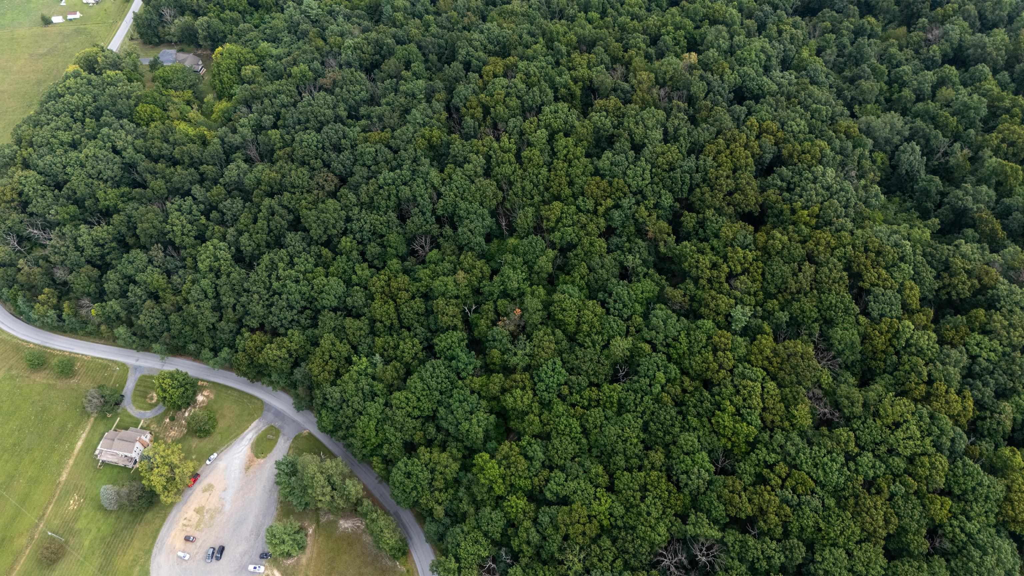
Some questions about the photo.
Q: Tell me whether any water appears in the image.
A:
No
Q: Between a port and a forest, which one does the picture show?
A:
forest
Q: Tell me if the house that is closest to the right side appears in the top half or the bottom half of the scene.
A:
top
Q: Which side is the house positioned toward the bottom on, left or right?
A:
left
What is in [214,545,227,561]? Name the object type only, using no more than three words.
vehicle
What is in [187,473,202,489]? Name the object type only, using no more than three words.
vehicle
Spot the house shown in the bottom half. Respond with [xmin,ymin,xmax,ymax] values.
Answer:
[96,427,151,474]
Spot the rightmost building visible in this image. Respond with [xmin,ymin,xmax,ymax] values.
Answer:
[170,51,206,77]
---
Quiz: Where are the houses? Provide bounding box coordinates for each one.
[170,51,206,77]
[96,427,151,474]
